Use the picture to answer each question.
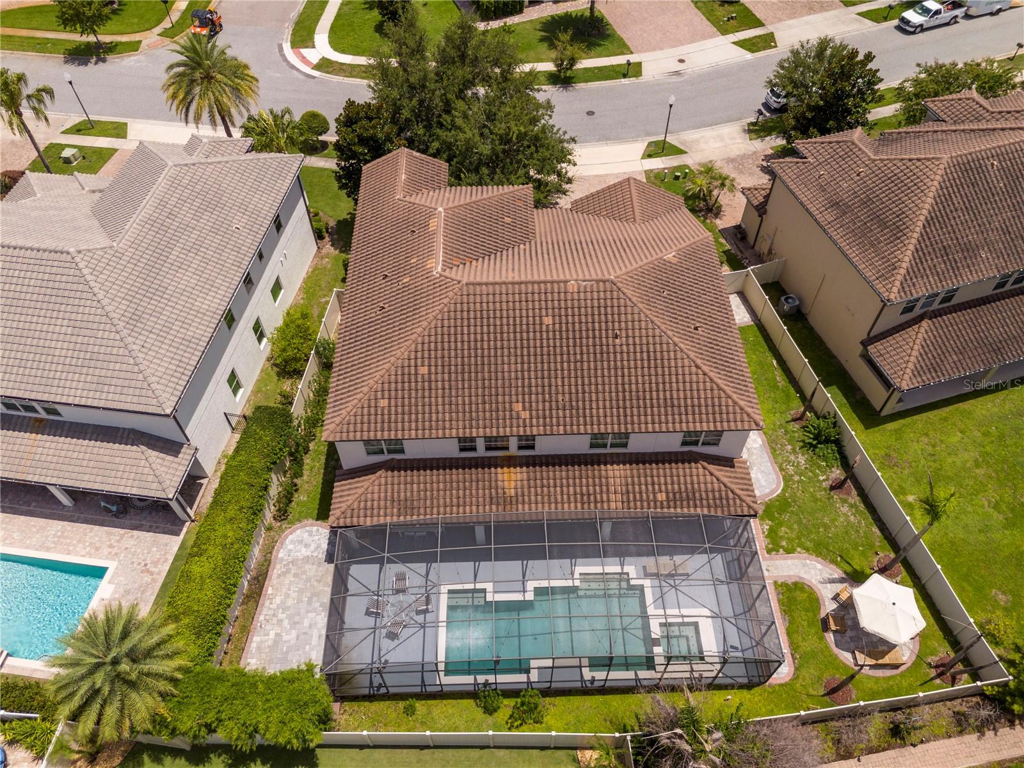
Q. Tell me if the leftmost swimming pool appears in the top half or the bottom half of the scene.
bottom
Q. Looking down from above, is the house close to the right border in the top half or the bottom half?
top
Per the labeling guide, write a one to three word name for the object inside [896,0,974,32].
truck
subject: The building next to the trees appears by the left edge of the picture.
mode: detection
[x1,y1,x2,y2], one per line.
[0,131,310,524]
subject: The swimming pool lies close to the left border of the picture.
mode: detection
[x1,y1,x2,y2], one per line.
[0,544,119,673]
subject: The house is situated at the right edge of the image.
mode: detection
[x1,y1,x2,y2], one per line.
[732,85,1024,419]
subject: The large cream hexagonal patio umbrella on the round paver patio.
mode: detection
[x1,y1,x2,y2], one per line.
[851,574,928,646]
